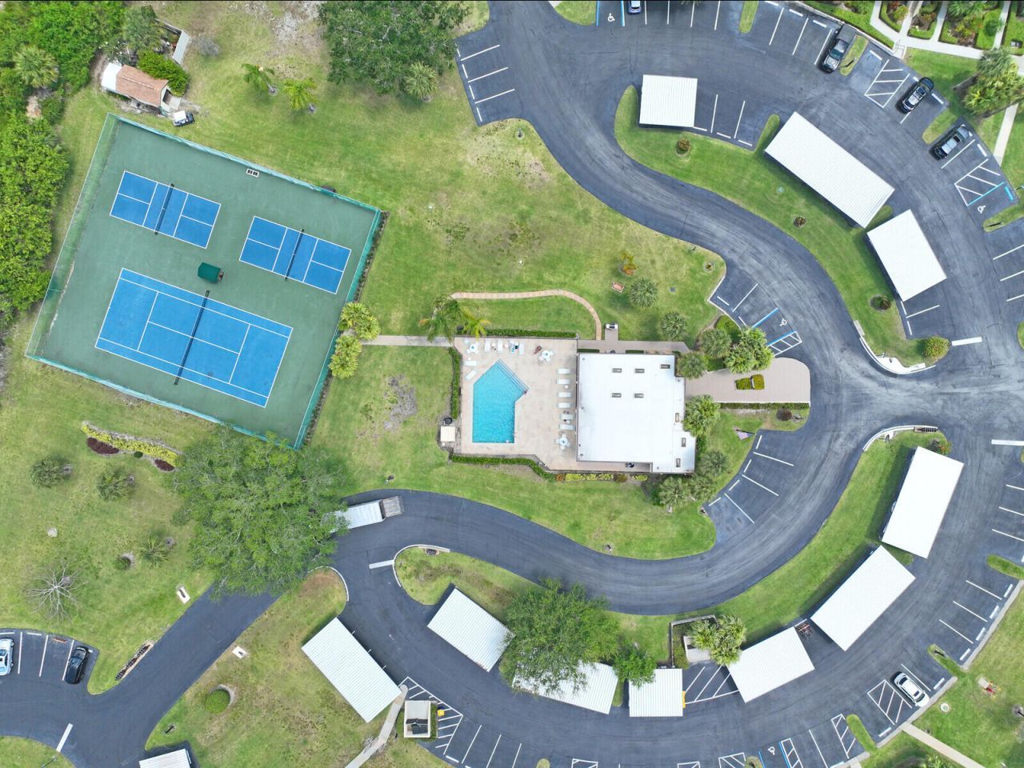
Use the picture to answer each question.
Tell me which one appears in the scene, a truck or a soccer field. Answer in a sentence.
I can see a truck in this picture.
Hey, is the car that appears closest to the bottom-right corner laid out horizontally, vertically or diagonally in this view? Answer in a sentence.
I'd say the car that appears closest to the bottom-right corner is aligned diagonally in the picture.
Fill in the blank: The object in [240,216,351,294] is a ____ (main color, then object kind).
blue sports court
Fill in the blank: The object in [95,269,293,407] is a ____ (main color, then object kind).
blue tennis court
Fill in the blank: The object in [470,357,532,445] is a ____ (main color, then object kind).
blue swimming pool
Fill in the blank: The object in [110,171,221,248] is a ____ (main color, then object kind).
blue sports court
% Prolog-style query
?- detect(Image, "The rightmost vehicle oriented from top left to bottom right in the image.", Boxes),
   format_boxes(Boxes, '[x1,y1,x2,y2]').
[891,670,928,708]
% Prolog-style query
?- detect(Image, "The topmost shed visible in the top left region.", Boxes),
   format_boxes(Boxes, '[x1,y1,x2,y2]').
[101,63,183,110]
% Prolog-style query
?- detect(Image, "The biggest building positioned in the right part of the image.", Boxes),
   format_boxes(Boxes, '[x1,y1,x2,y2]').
[576,354,695,473]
